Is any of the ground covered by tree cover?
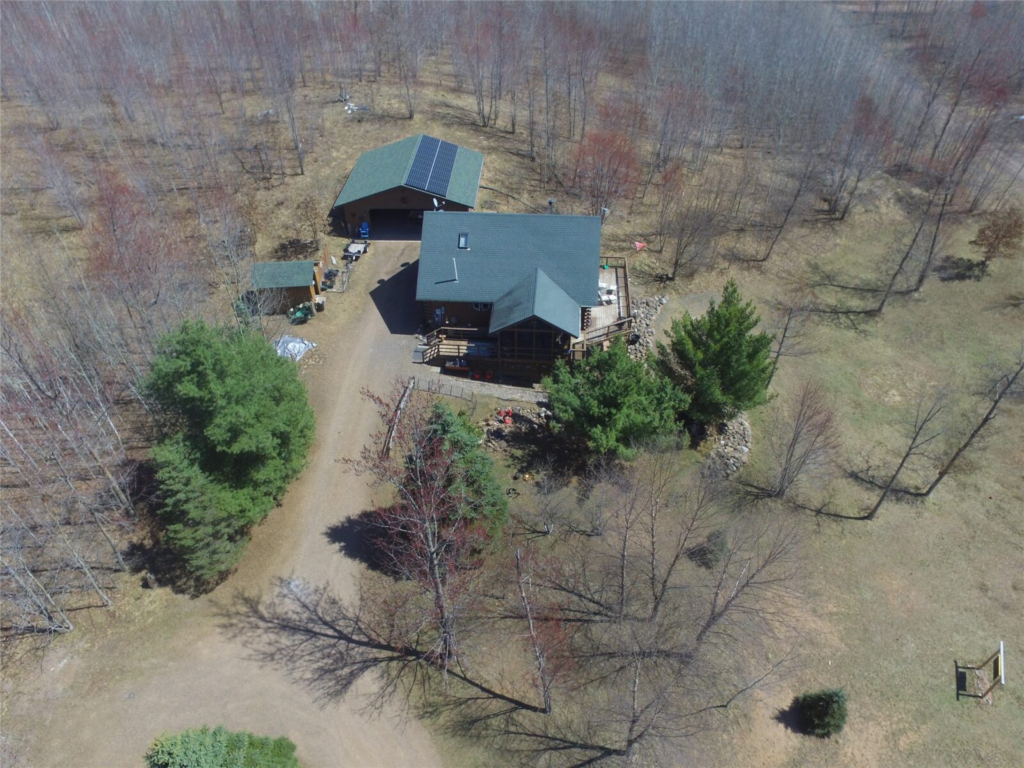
Yes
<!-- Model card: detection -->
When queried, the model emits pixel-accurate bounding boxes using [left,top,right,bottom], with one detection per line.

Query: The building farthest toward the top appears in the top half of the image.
[335,135,485,243]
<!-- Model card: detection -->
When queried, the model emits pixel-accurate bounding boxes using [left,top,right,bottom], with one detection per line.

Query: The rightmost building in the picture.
[417,201,601,392]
